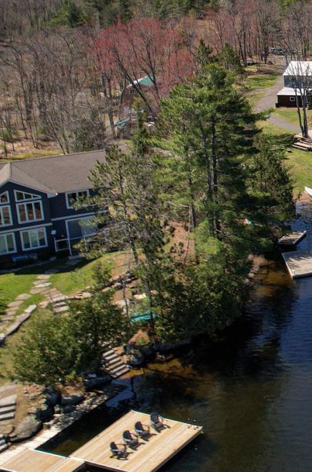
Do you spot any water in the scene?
Yes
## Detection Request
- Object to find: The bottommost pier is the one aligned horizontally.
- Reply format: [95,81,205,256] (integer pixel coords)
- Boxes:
[4,449,86,472]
